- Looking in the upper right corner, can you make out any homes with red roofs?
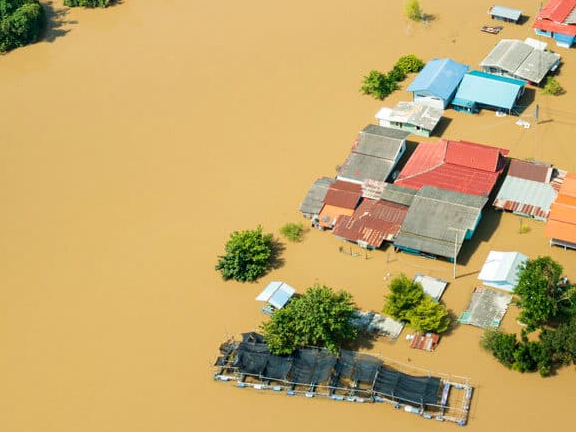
Yes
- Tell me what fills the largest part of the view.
water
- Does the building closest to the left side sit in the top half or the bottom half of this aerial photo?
bottom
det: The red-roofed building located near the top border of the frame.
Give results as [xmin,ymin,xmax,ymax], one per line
[533,0,576,48]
